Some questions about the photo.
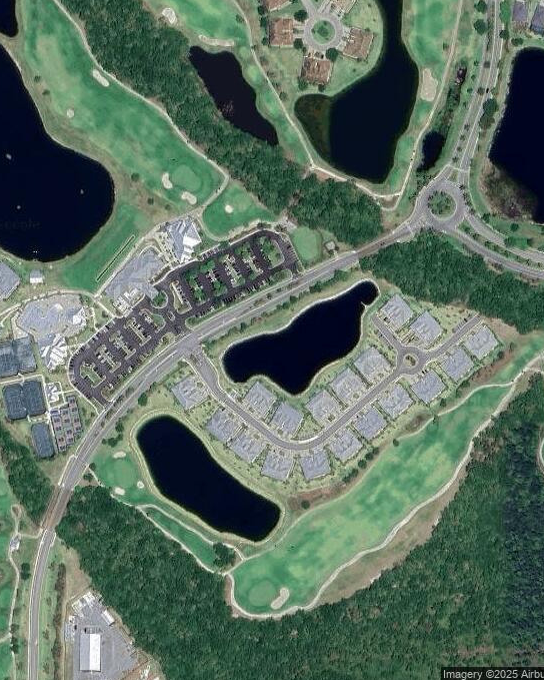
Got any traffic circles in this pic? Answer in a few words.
Yes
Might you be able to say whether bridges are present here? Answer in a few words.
Yes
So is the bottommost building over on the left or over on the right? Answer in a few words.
left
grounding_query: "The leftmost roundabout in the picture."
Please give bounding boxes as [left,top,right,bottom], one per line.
[302,12,344,54]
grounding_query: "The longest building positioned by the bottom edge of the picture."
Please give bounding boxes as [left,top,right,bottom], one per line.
[80,634,101,671]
